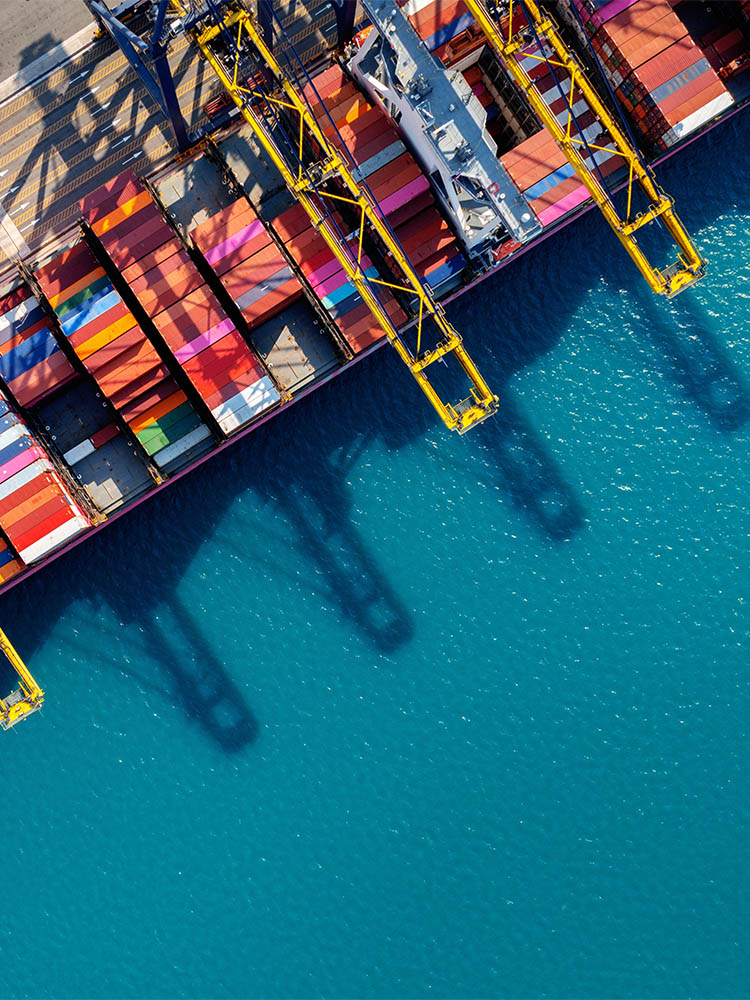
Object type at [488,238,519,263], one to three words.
boat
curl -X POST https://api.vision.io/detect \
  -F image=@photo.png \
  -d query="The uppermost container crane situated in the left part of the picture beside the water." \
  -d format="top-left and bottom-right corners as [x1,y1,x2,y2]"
[85,0,505,440]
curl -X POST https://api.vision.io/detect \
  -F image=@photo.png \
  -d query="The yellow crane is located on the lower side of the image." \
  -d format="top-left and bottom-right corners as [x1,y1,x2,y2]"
[0,618,49,737]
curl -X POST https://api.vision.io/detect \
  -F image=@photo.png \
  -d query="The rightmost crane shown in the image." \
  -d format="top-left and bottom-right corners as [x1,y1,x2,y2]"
[324,0,715,307]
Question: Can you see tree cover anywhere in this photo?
No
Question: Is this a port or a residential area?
port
